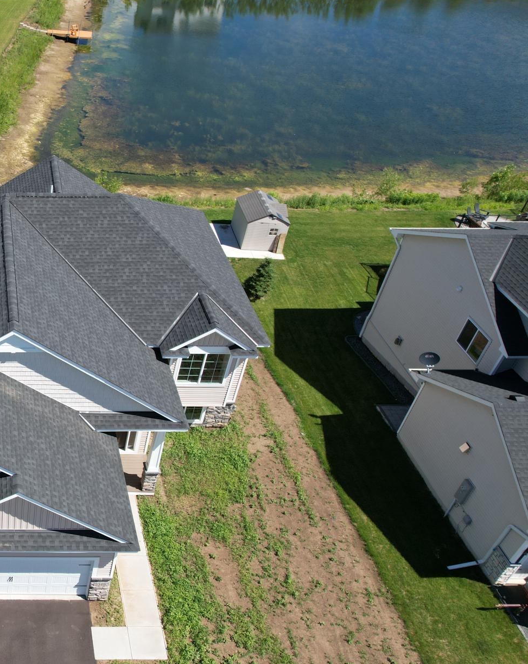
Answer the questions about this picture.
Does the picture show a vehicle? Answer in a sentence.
No, no vehicle is visible in the view.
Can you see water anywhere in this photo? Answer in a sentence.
Yes, the picture does contain water.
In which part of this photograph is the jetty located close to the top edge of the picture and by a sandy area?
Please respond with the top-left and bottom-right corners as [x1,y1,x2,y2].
[50,19,95,43]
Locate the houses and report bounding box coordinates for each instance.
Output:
[359,208,528,598]
[0,154,271,602]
